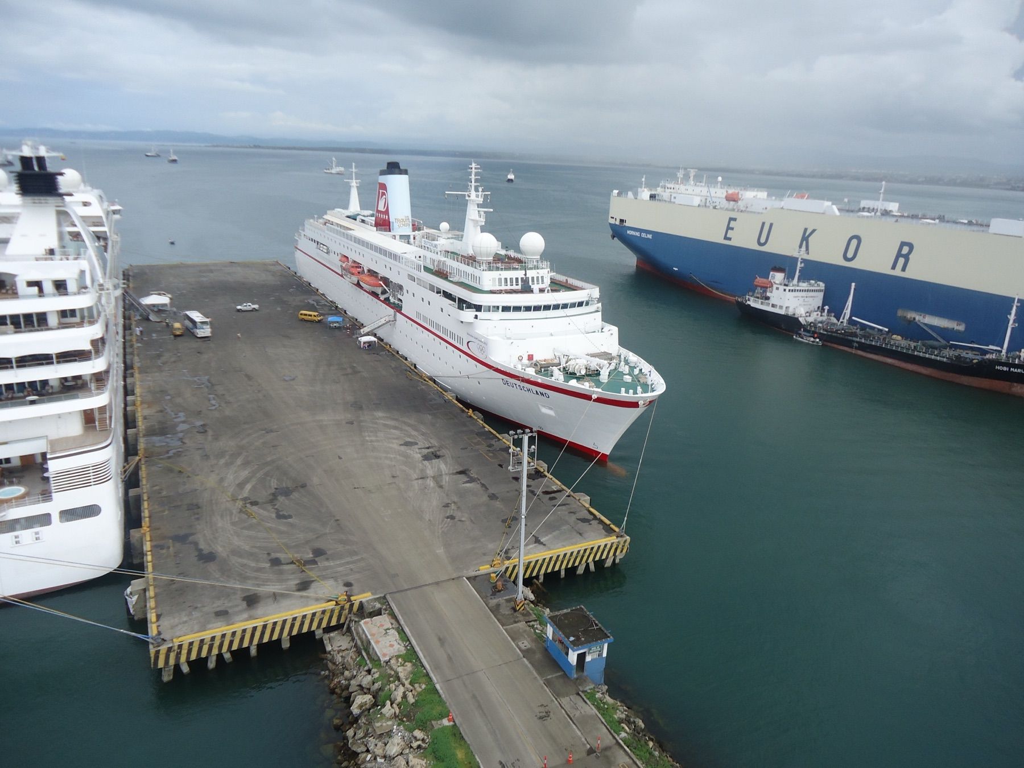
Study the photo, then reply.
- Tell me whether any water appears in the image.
Yes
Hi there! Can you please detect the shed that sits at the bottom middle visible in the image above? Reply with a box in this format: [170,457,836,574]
[544,604,614,693]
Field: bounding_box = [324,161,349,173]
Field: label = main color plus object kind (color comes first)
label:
white vessel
